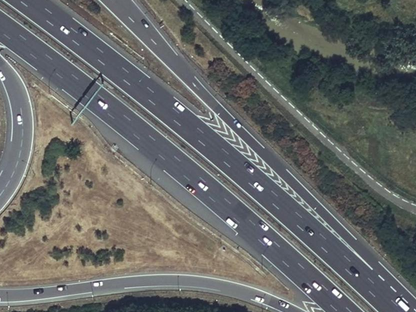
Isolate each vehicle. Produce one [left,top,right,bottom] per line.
[140,18,150,28]
[93,281,103,286]
[234,118,242,128]
[184,182,196,192]
[259,220,268,230]
[56,284,66,290]
[253,180,264,190]
[17,114,22,124]
[350,266,360,276]
[97,98,108,108]
[396,296,410,310]
[312,281,322,290]
[305,226,314,235]
[60,25,70,34]
[254,295,264,302]
[78,27,88,36]
[0,70,5,80]
[33,288,44,294]
[262,236,272,244]
[174,101,186,112]
[196,180,208,190]
[331,288,342,298]
[302,283,311,292]
[225,216,238,228]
